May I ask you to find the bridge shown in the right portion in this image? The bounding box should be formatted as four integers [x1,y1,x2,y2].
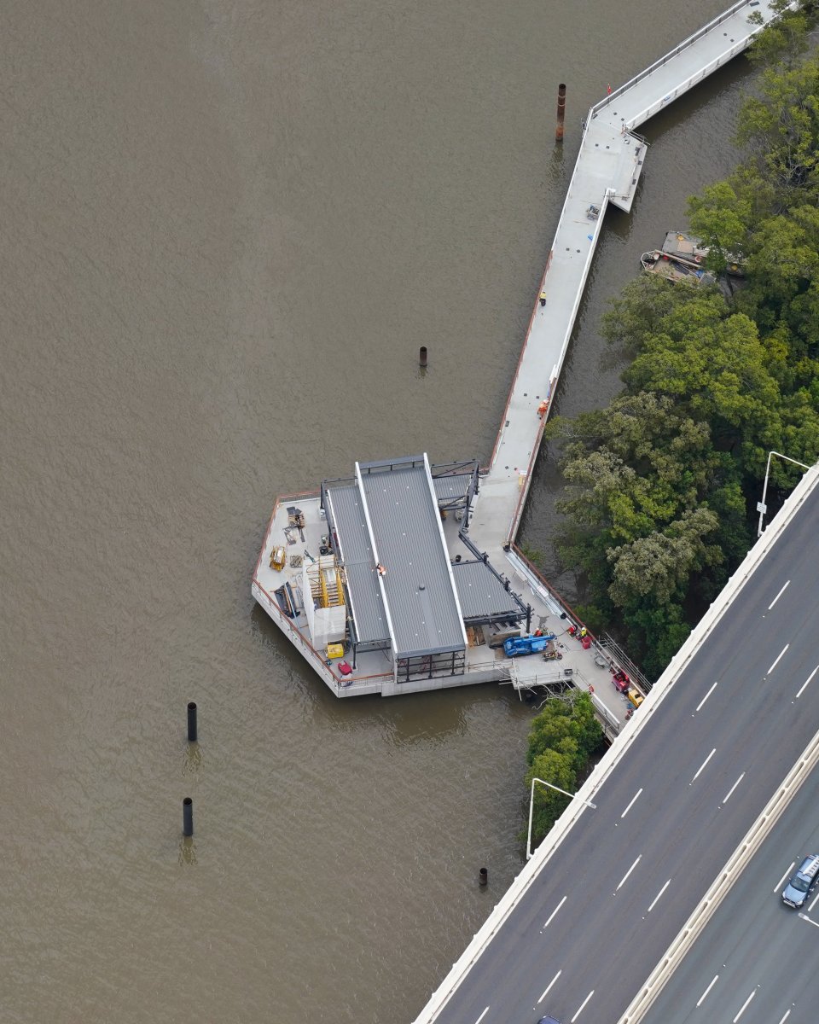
[409,454,819,1024]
